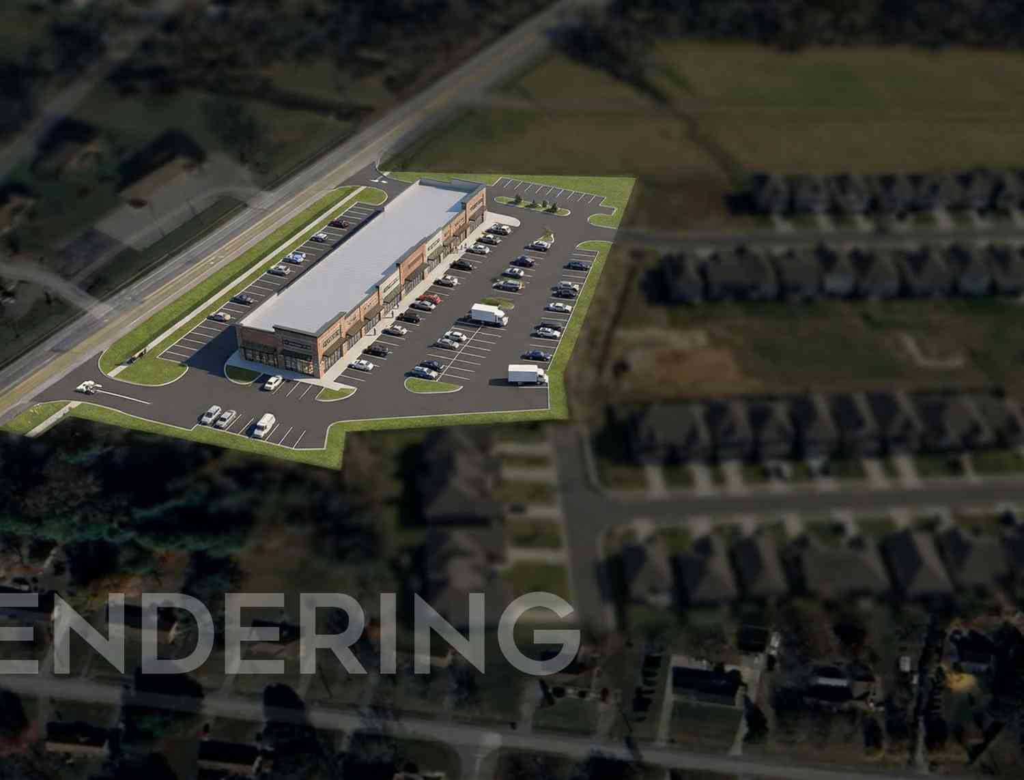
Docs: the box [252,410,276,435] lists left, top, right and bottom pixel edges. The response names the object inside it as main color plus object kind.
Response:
white vehicle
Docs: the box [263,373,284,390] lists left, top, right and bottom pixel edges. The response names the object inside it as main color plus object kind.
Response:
white car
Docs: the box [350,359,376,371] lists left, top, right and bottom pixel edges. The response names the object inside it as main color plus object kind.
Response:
white vehicle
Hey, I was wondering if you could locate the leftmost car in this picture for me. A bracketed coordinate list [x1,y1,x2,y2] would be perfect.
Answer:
[76,381,96,393]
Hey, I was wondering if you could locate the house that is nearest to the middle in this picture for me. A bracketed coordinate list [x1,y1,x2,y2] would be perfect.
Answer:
[427,416,500,465]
